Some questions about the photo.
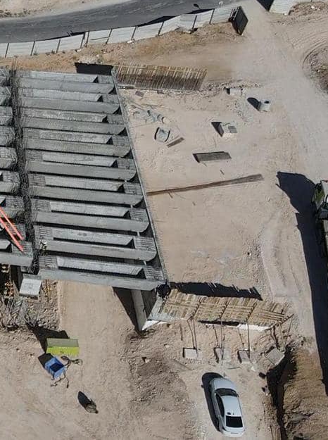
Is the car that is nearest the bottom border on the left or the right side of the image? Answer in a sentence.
It is on the right.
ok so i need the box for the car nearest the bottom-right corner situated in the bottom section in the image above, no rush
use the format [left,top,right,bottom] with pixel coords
[212,373,249,439]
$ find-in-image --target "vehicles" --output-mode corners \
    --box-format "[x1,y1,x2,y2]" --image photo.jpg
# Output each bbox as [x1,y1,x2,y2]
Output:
[212,373,249,439]
[311,180,328,284]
